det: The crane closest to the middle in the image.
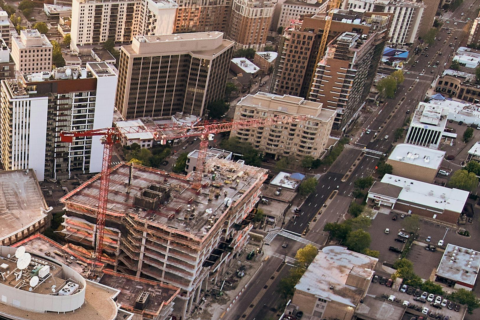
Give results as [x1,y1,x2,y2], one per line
[155,115,309,188]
